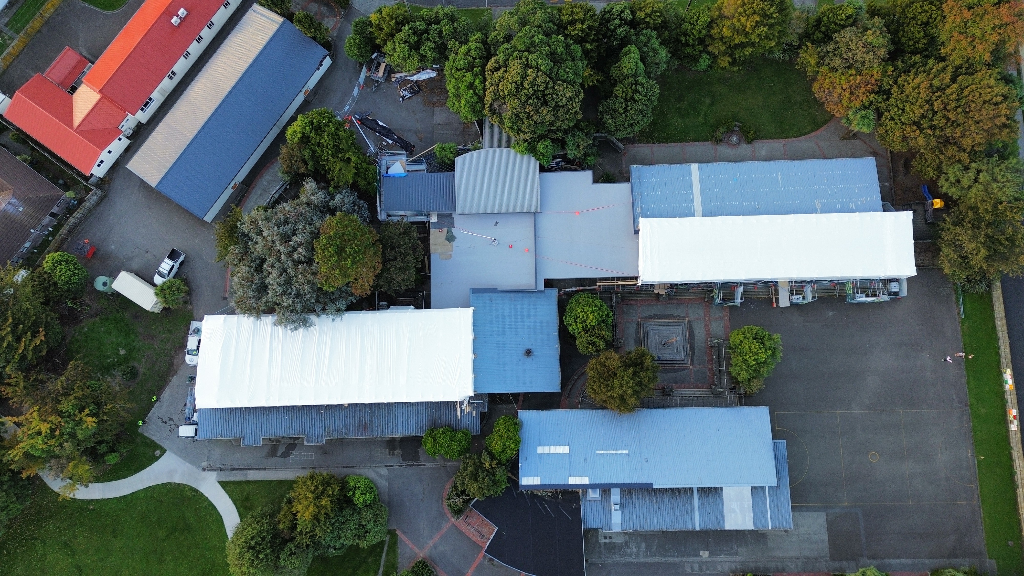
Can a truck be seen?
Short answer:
Yes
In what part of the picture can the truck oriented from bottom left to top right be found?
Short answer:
left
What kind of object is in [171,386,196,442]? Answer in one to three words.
truck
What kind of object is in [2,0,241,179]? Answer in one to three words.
building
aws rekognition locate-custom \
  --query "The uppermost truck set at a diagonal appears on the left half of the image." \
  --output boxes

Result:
[152,246,186,284]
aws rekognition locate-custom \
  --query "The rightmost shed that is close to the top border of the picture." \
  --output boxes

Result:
[126,4,331,221]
